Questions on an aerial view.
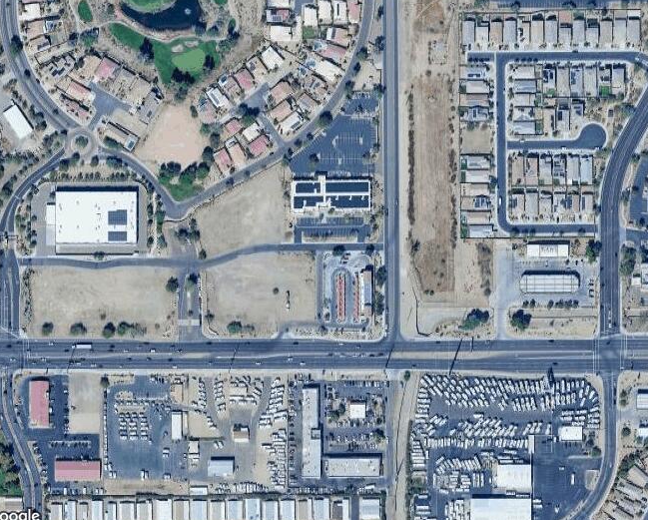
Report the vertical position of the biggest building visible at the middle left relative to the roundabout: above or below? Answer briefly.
below it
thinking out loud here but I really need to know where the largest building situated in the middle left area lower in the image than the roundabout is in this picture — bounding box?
[45,192,138,245]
